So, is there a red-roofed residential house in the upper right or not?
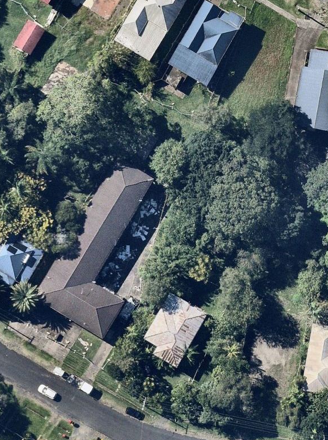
No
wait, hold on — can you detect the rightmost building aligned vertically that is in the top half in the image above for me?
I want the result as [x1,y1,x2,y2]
[292,49,328,131]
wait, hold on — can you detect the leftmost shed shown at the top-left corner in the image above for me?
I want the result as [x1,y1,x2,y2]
[13,19,46,55]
